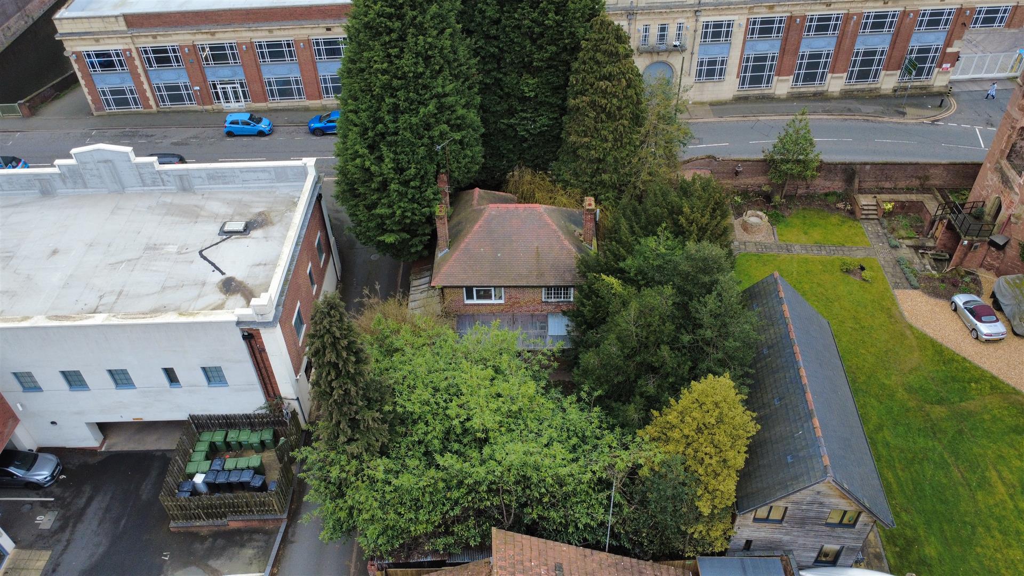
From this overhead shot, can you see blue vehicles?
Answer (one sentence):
Yes, the image includes a blue vehicle.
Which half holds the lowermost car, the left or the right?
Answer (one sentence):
You can find the lowermost car on the left side of the picture.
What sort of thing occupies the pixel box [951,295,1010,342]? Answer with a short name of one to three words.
car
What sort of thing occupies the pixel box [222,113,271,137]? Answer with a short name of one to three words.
car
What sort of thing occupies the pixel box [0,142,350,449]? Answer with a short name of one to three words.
building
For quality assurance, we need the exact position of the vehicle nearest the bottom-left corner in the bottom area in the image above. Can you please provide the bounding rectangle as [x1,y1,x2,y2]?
[0,445,61,490]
